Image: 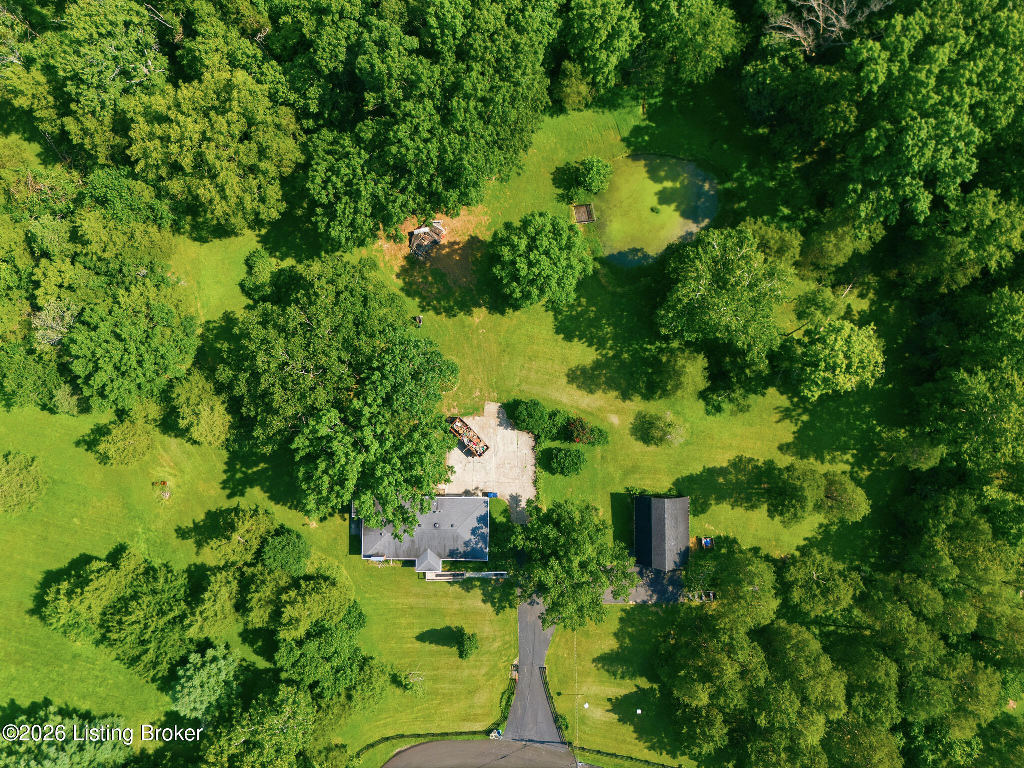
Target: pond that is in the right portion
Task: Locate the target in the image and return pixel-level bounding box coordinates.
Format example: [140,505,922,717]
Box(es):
[595,154,721,267]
